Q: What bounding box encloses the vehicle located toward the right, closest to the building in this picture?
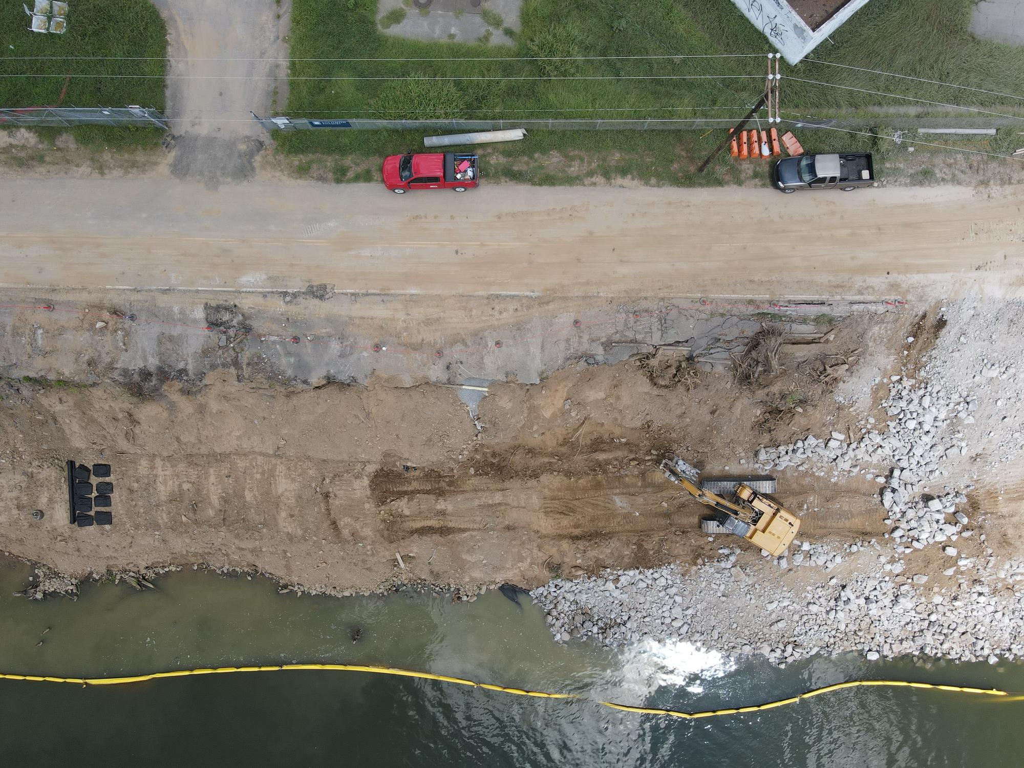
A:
[771,149,875,194]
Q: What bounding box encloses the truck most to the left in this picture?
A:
[382,150,483,194]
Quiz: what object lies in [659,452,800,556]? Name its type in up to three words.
work vehicle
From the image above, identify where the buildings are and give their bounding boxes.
[733,0,862,62]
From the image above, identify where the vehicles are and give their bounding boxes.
[771,149,875,194]
[659,452,800,556]
[382,150,483,194]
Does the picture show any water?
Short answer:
Yes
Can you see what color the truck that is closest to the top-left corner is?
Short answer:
red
